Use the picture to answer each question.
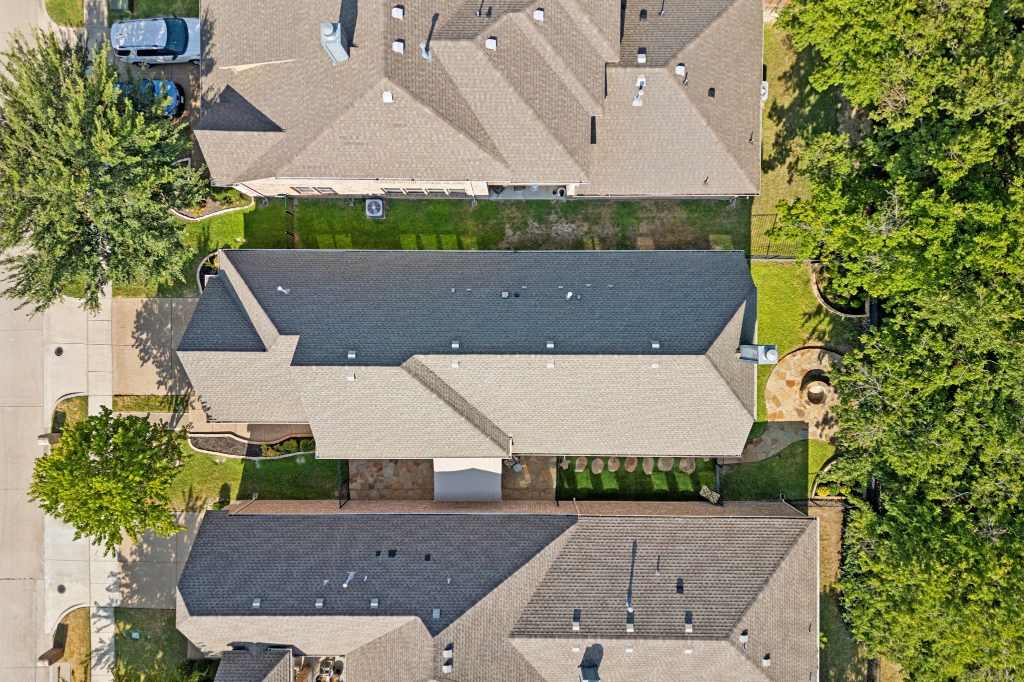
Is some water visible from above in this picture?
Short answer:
No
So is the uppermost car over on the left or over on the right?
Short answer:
left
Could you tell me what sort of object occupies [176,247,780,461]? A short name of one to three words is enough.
house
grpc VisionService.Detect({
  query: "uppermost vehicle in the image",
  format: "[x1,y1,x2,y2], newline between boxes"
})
[101,12,198,72]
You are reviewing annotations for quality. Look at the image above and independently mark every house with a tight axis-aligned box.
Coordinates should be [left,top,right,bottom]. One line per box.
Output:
[175,493,820,682]
[176,247,780,461]
[194,0,764,207]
